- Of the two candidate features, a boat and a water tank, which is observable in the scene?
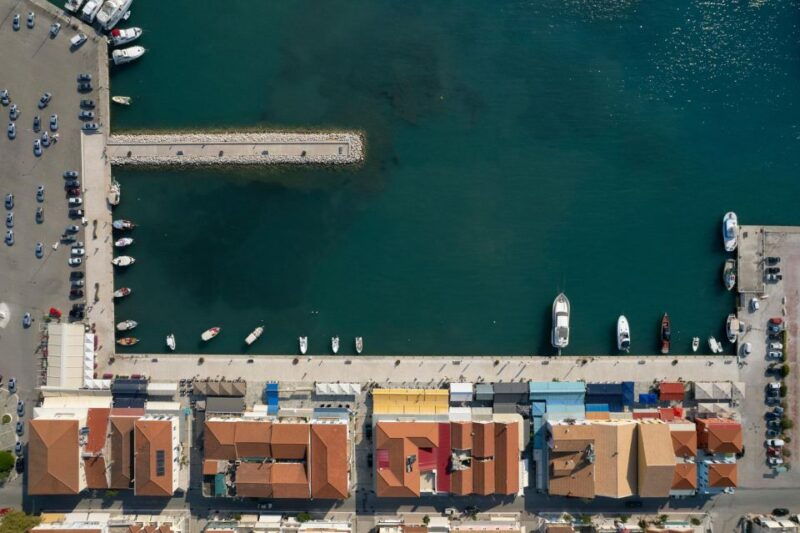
boat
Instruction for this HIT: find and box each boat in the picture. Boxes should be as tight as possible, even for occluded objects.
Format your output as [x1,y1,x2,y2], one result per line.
[721,212,739,252]
[112,97,132,103]
[114,288,132,296]
[109,46,147,65]
[110,220,134,231]
[332,334,339,353]
[616,315,630,356]
[108,177,121,206]
[61,0,86,17]
[122,9,130,20]
[355,334,362,353]
[166,333,175,350]
[692,335,698,351]
[113,238,134,246]
[113,255,137,266]
[94,0,131,34]
[722,259,736,292]
[659,312,670,353]
[78,0,102,27]
[299,334,306,353]
[243,325,263,347]
[198,327,220,343]
[105,27,144,48]
[550,293,570,357]
[705,334,717,352]
[115,336,140,345]
[724,313,740,343]
[114,320,139,332]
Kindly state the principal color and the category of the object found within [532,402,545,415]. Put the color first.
blue umbrella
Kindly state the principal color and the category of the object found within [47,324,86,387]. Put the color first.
white tent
